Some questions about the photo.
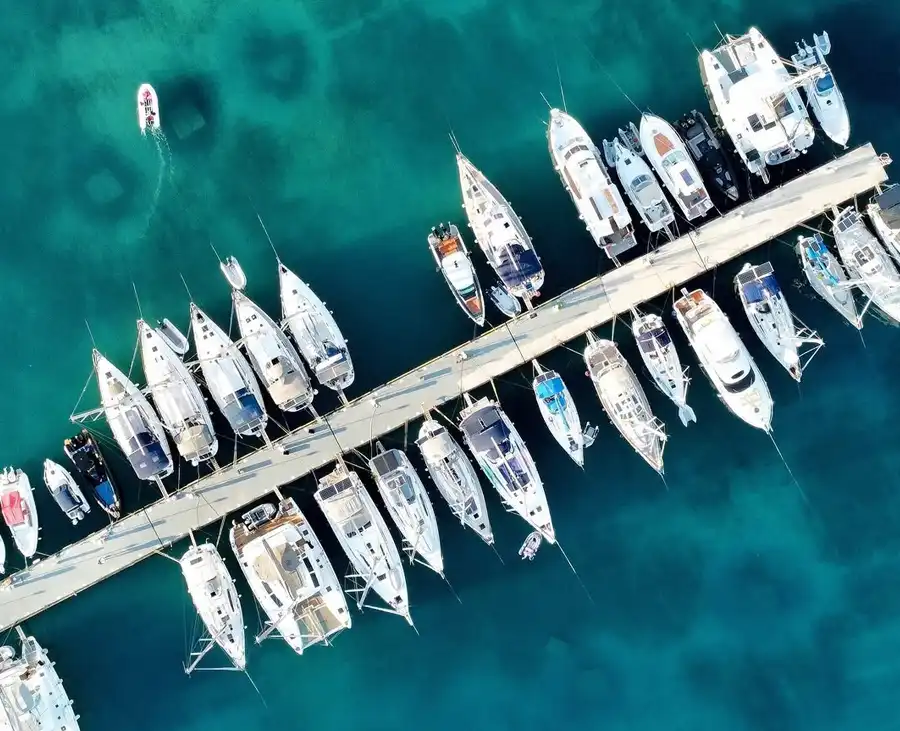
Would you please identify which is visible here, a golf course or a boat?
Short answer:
boat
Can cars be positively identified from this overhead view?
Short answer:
No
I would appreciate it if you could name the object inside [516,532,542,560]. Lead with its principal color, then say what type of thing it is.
white boat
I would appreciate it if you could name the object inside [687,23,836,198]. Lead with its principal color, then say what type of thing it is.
white boat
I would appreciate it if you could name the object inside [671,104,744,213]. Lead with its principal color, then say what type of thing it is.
black boat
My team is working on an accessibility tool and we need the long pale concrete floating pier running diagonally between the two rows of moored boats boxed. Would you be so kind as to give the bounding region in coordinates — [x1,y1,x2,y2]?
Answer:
[0,141,889,633]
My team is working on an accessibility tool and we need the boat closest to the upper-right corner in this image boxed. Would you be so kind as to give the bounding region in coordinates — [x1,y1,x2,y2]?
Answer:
[811,28,832,55]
